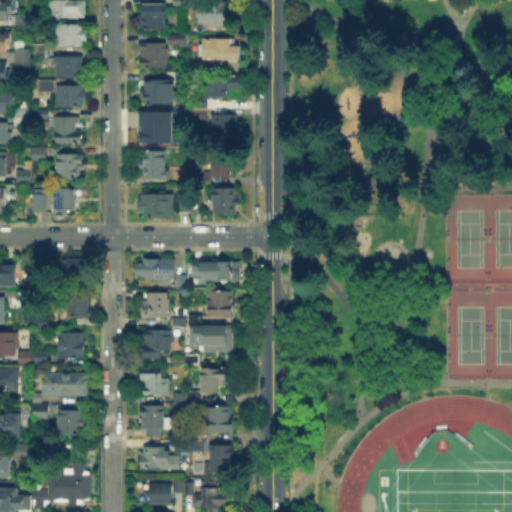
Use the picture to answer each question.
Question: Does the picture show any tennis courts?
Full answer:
Yes, a tennis court appears in the view.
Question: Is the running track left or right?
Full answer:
It is on the right.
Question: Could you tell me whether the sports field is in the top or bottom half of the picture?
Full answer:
Seen from above, the sports field lies in the bottom half of the view.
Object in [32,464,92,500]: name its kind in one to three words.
house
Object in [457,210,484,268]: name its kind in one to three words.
tennis court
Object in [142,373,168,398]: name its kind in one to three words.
house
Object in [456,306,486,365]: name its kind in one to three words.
tennis court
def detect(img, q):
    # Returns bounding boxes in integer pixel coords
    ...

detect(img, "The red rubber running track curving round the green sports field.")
[338,394,512,512]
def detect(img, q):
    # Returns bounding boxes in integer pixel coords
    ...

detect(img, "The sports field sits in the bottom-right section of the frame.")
[360,421,512,512]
